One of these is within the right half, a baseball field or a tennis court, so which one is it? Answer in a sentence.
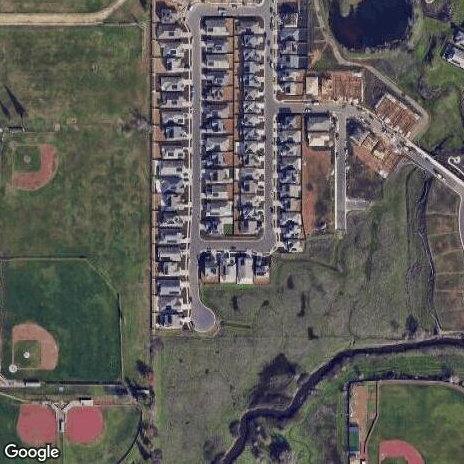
You can see a baseball field within the right half.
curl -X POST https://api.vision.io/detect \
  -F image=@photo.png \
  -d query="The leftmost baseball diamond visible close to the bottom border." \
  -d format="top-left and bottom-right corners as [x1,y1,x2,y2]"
[0,392,61,464]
